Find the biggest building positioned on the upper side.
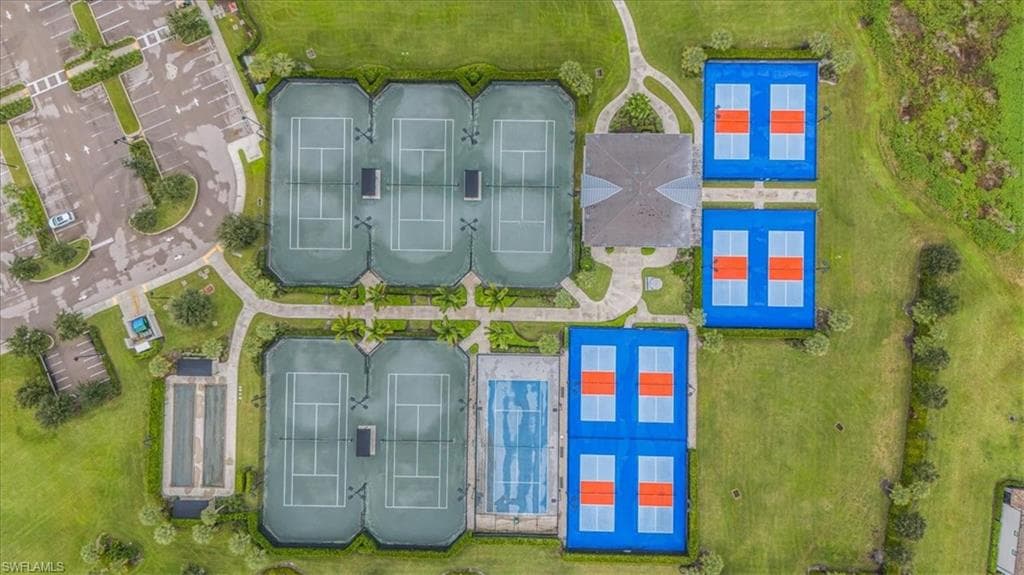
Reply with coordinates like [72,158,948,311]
[580,133,701,247]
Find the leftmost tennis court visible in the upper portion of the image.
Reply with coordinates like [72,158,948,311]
[269,83,372,283]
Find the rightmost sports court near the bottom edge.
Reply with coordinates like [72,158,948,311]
[627,439,687,553]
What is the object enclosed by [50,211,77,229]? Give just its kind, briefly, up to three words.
car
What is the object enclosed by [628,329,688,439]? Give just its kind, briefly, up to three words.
sports court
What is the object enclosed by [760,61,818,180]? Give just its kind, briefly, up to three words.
sports court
